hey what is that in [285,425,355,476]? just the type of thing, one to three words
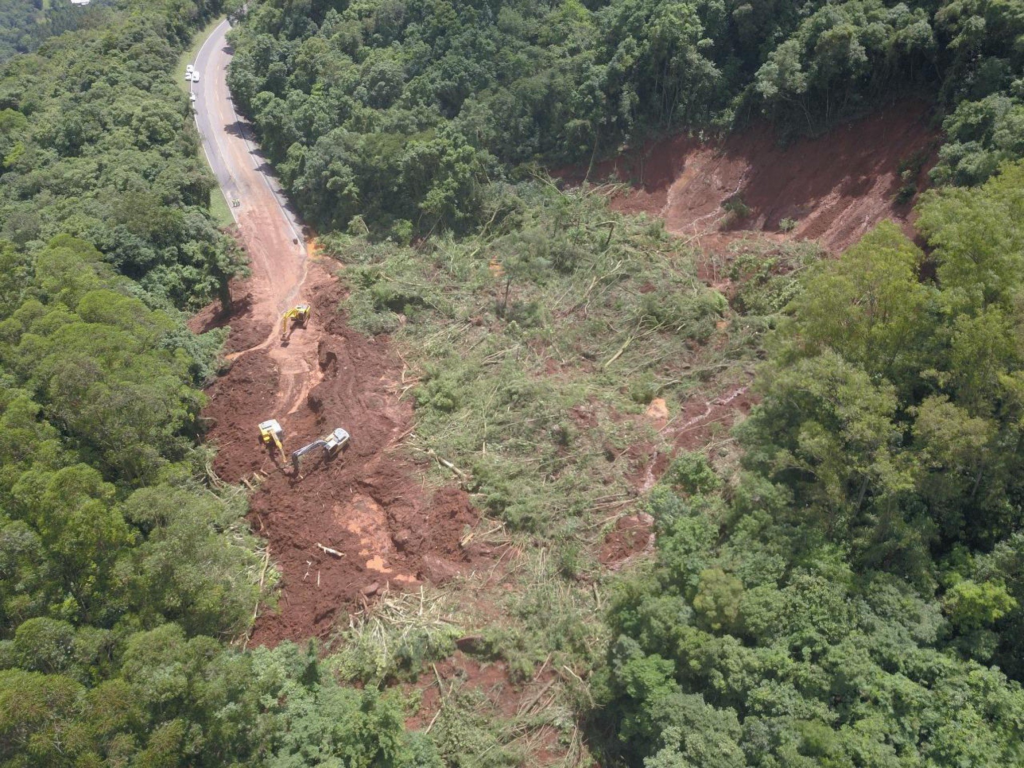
work vehicle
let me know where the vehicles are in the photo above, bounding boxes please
[187,92,196,100]
[285,425,355,476]
[258,414,287,471]
[278,307,313,342]
[190,71,199,80]
[183,71,191,81]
